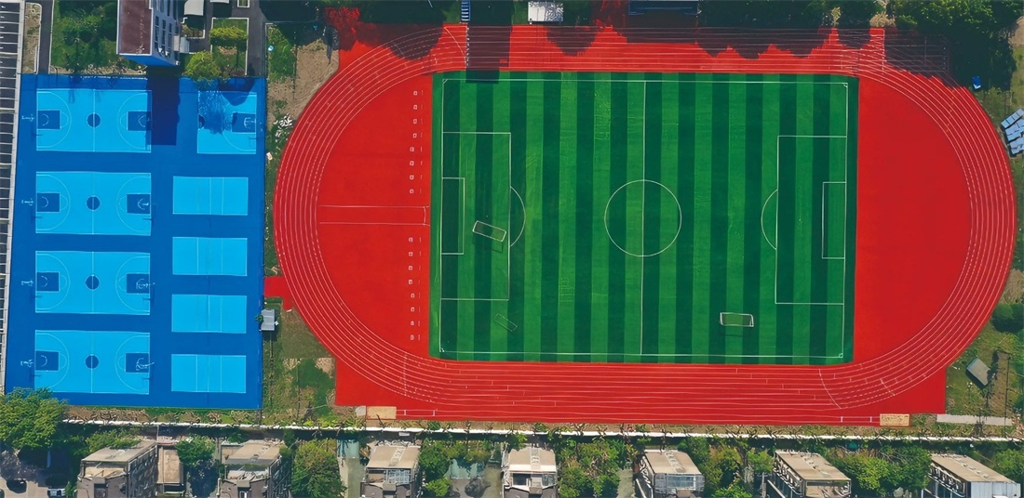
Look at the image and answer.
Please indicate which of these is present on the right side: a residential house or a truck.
residential house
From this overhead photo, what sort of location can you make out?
sports ground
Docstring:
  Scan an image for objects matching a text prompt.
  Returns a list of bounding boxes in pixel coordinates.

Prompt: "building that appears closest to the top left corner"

[116,0,179,65]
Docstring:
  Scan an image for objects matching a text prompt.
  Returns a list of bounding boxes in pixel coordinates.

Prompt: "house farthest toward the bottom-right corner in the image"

[930,460,1020,498]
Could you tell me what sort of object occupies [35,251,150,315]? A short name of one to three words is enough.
basketball court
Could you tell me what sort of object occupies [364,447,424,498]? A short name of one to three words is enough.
house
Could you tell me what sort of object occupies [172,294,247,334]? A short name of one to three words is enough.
sports court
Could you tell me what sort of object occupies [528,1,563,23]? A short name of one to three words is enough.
building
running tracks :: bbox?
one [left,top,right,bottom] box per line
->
[264,24,1014,427]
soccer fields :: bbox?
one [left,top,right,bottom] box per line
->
[430,70,861,366]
